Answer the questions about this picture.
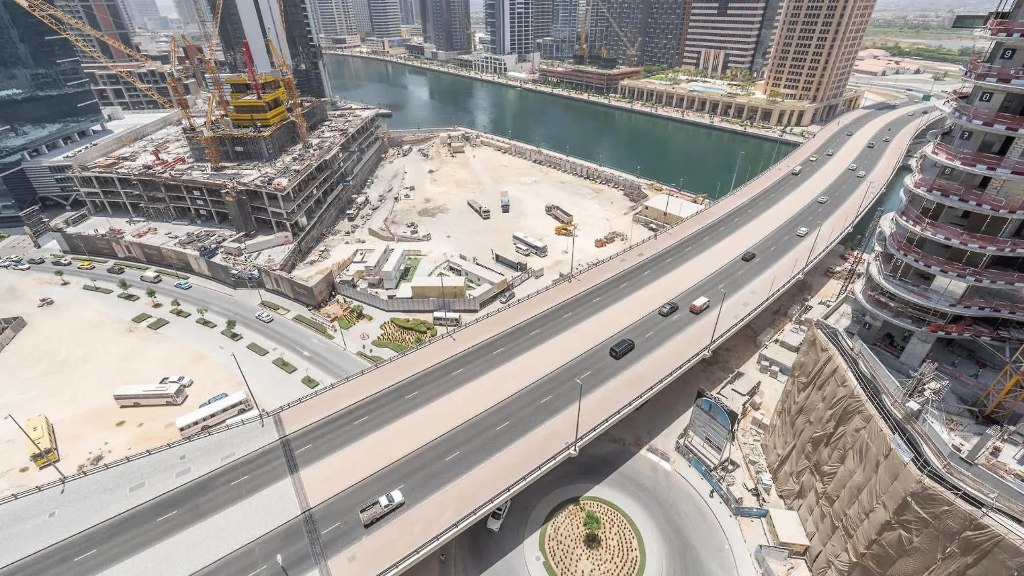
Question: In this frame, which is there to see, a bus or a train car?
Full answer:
Of the two, only a bus appears.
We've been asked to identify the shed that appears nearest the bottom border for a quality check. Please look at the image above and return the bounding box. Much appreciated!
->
[765,508,812,557]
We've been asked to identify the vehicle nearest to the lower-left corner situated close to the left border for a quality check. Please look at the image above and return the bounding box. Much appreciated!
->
[22,415,53,463]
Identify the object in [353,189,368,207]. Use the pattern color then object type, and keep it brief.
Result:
white vehicle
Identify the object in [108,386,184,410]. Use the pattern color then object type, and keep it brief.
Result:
white bus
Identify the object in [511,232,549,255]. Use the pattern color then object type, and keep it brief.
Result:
white bus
